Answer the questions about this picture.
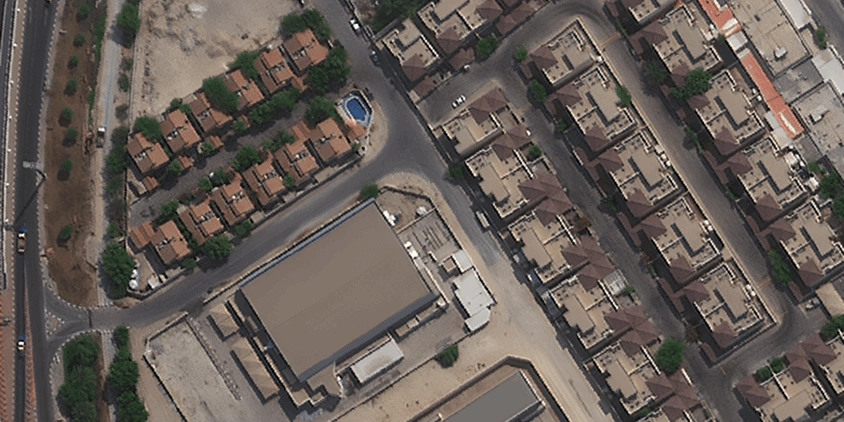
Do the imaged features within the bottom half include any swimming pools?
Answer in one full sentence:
No, looking within the bottom half, there is no swimming pool.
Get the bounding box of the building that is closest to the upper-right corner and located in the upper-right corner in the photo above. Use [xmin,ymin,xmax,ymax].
[781,0,814,31]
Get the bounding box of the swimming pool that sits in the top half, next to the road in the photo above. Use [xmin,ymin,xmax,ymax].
[342,92,372,128]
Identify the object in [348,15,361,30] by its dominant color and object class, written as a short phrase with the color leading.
white vehicle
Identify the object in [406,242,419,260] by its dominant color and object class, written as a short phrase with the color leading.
white vehicle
